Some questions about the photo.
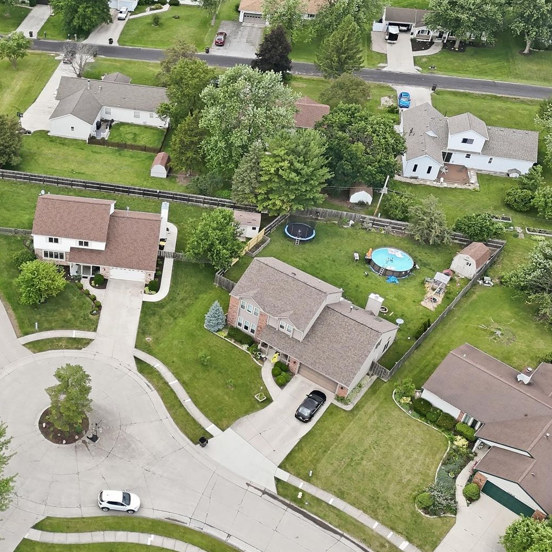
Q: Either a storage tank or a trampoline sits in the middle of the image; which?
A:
trampoline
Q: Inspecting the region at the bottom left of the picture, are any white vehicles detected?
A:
Yes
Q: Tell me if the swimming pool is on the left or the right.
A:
right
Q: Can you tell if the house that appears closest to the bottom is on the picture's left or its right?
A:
right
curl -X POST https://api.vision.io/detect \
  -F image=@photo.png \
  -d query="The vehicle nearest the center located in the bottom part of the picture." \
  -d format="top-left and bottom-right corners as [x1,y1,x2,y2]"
[296,389,329,421]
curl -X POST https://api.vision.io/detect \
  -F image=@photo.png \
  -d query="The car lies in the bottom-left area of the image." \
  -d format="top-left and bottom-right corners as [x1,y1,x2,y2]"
[97,490,140,513]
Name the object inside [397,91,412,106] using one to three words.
car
